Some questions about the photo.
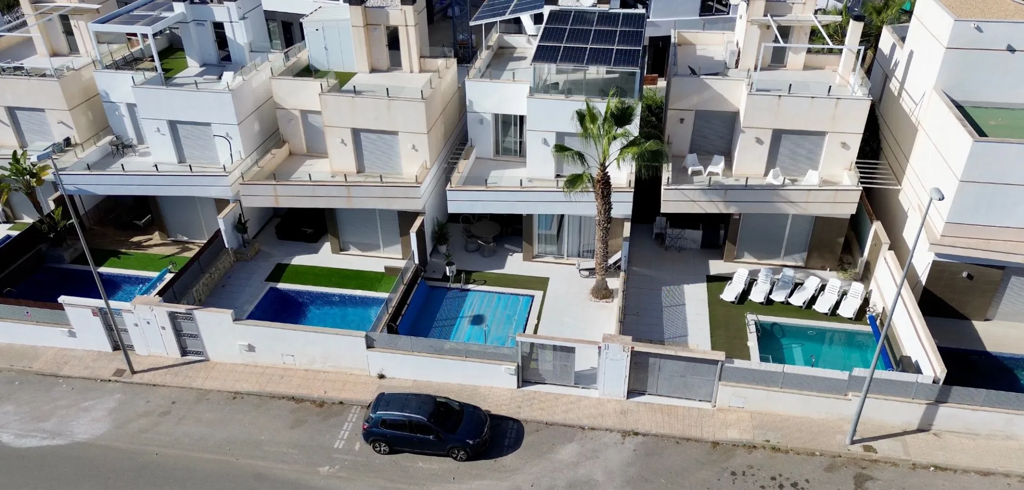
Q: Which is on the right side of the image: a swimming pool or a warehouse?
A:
swimming pool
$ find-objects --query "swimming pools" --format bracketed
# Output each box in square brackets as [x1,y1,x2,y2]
[17,261,180,304]
[421,277,544,356]
[746,311,888,388]
[936,341,1024,399]
[238,280,386,327]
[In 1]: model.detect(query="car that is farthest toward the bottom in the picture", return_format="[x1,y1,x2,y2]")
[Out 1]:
[359,392,490,464]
